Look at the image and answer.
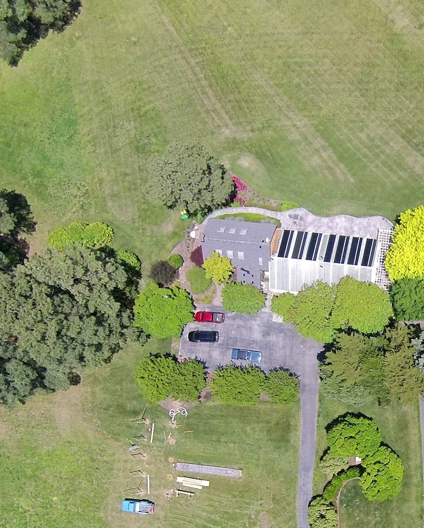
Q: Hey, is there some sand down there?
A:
No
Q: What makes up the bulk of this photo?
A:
grass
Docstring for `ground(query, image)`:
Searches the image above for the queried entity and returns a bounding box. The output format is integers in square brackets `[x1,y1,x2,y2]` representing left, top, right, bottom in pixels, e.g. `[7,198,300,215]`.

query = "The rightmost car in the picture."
[230,349,262,362]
